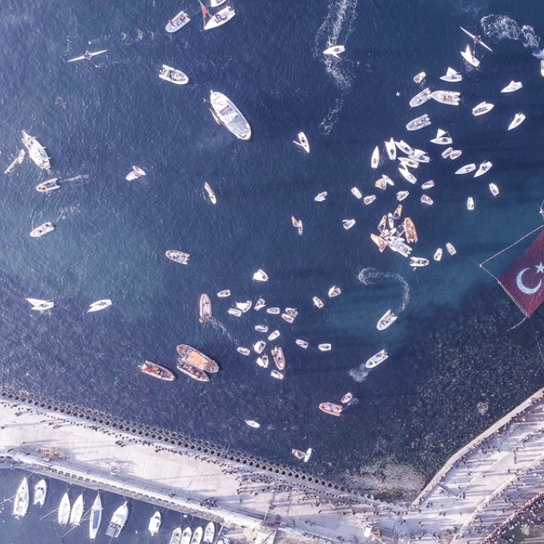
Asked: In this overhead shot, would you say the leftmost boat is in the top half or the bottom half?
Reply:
bottom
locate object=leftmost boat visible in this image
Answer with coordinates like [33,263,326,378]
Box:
[0,477,31,518]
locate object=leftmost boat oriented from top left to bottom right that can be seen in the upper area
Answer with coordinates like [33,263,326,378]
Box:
[23,133,55,172]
